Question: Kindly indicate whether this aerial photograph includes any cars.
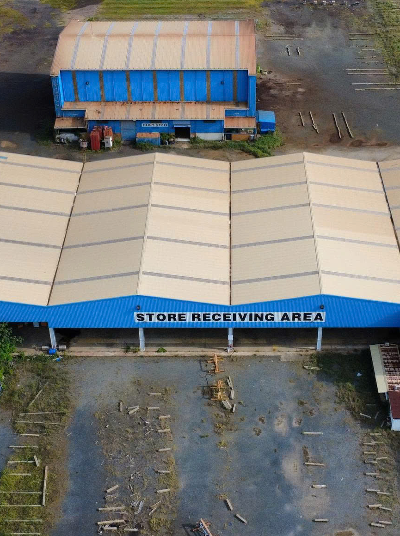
No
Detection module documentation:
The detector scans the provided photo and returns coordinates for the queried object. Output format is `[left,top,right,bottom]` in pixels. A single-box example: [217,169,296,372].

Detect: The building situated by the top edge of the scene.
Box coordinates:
[46,18,258,142]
